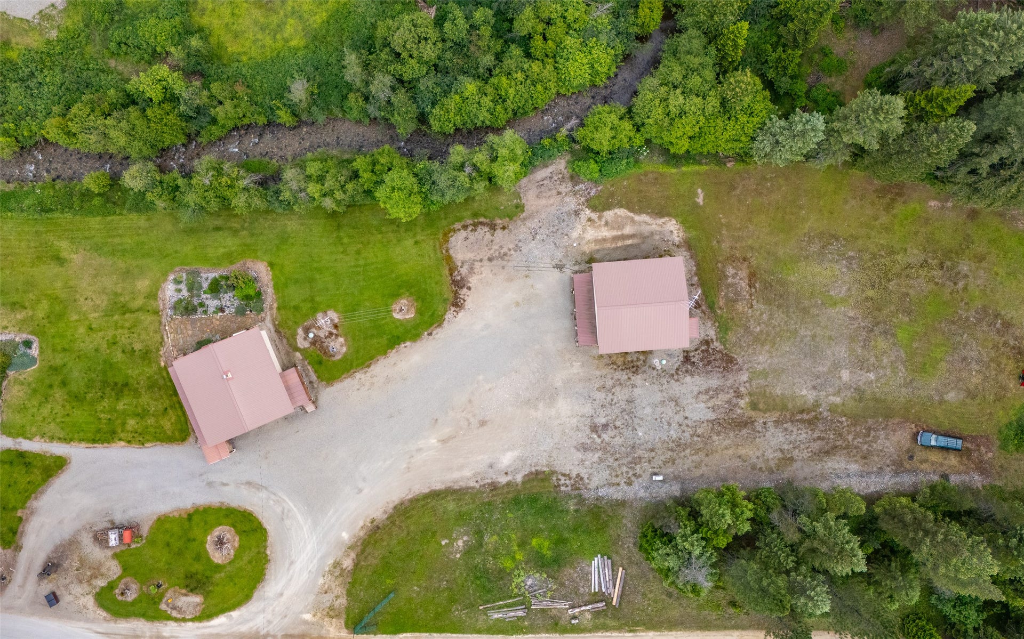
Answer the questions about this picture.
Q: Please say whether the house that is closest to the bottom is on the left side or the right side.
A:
left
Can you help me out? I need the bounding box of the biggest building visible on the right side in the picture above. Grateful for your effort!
[571,257,700,354]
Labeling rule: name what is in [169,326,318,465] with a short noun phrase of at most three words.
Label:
house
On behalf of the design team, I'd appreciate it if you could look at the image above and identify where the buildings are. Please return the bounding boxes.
[571,257,700,354]
[169,326,318,465]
